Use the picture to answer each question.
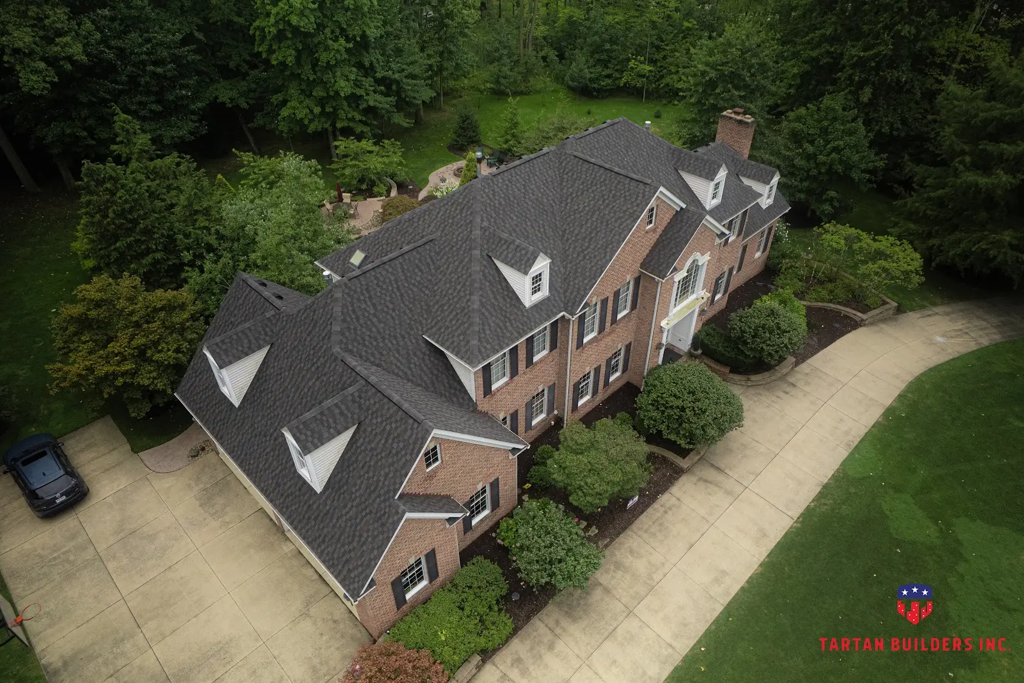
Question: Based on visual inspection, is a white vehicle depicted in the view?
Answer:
No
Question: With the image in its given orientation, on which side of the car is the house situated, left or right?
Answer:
right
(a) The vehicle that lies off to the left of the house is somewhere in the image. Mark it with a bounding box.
[2,429,90,517]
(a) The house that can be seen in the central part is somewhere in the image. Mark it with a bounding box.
[173,105,791,639]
